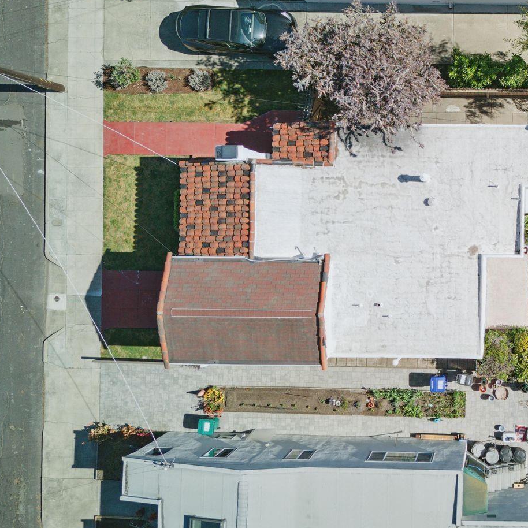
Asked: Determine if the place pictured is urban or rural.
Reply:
urban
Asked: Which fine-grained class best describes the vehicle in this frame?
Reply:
car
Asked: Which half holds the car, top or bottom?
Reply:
top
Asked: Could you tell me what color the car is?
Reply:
black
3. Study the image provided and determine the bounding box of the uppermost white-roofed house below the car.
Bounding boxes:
[149,124,528,373]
